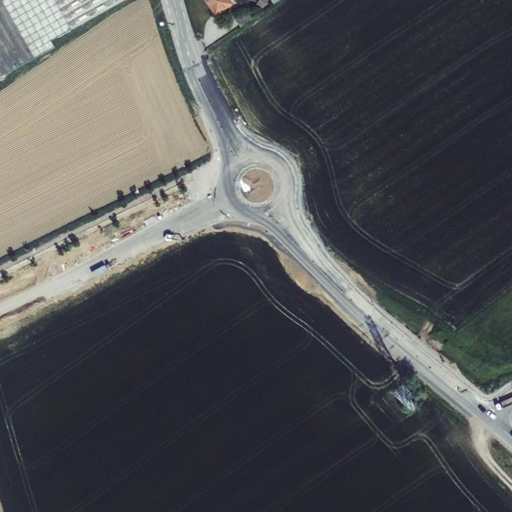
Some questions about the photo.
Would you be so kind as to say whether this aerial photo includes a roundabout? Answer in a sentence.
Yes, a roundabout appears in the view.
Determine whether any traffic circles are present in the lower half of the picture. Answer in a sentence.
No, the scene shows no traffic circle in the lower half of the picture.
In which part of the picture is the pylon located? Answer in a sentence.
The pylon sits in the bottom right section of the image.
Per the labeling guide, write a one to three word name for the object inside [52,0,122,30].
greenhouse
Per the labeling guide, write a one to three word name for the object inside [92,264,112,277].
vehicle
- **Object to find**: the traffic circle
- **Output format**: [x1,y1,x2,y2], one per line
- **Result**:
[234,162,282,210]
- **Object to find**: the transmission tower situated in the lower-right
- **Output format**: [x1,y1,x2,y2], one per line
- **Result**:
[394,384,416,414]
